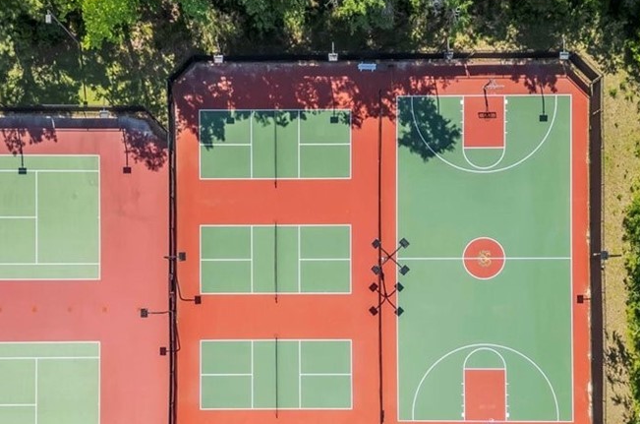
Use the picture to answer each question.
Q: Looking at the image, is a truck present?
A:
No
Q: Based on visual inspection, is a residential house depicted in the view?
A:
No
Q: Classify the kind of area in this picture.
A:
sports ground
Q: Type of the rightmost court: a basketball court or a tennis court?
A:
basketball court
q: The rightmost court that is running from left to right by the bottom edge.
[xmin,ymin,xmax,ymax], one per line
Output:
[200,340,353,410]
